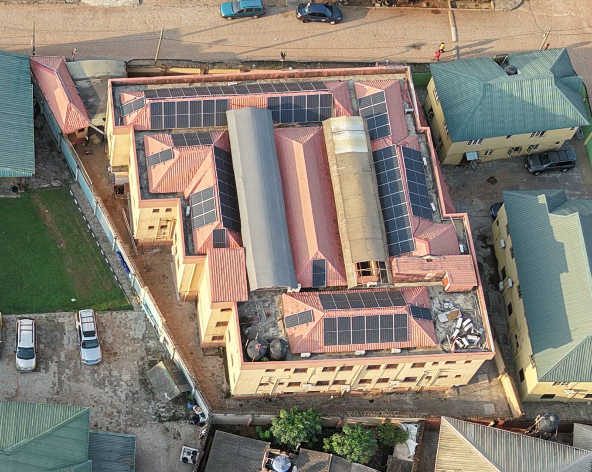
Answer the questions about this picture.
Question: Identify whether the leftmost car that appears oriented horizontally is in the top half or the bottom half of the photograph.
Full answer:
The leftmost car that appears oriented horizontally sits in the top half of the picture.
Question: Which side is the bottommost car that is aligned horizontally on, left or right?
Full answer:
You can find the bottommost car that is aligned horizontally on the right side of the picture.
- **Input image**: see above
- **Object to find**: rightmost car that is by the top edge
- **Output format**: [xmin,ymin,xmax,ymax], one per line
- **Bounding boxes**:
[295,4,343,26]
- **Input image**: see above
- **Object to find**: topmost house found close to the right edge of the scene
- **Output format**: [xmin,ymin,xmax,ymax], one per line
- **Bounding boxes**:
[425,47,592,161]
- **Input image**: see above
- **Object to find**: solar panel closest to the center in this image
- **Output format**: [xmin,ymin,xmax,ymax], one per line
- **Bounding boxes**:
[313,259,326,287]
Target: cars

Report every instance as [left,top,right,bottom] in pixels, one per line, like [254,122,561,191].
[76,311,102,365]
[487,198,504,220]
[523,147,579,177]
[295,4,343,26]
[14,319,38,371]
[219,0,266,21]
